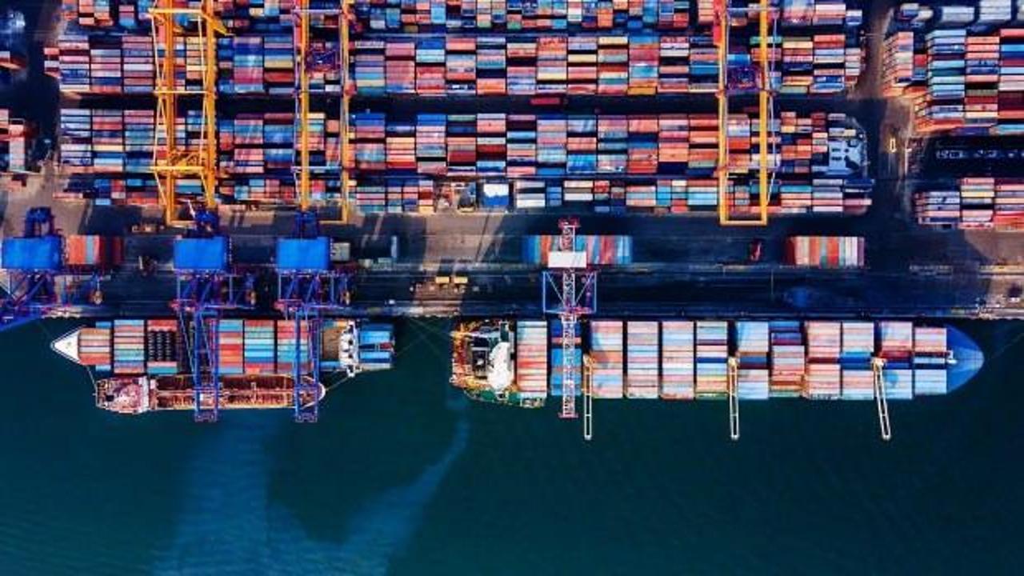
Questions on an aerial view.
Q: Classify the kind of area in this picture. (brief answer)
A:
port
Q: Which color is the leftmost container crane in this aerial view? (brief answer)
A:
blue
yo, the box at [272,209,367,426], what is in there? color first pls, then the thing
blue container crane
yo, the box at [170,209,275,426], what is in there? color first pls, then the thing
blue container crane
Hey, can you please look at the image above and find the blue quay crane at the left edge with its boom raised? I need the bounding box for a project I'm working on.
[0,209,133,338]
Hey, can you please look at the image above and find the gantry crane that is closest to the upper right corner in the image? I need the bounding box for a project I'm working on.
[706,0,784,223]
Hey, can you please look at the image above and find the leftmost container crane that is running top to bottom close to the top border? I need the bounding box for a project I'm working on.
[149,0,241,223]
